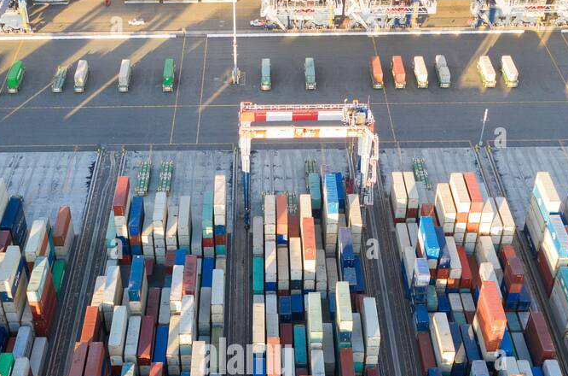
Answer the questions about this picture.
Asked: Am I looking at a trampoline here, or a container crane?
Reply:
container crane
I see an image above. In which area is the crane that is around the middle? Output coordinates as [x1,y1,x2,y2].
[235,94,372,219]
